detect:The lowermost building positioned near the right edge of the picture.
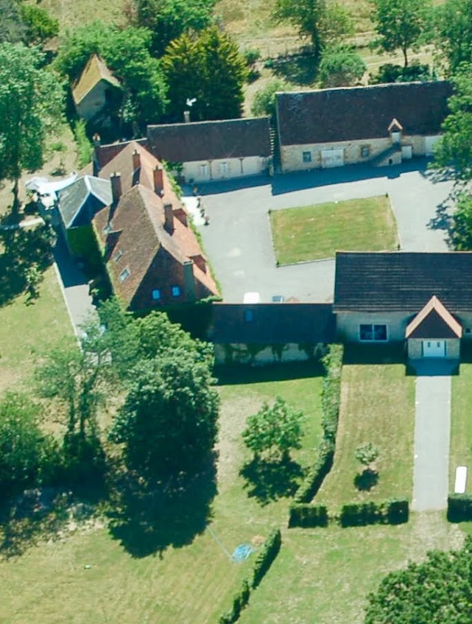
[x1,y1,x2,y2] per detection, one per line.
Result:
[334,249,472,358]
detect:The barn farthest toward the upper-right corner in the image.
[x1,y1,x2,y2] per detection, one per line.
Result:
[274,81,456,175]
